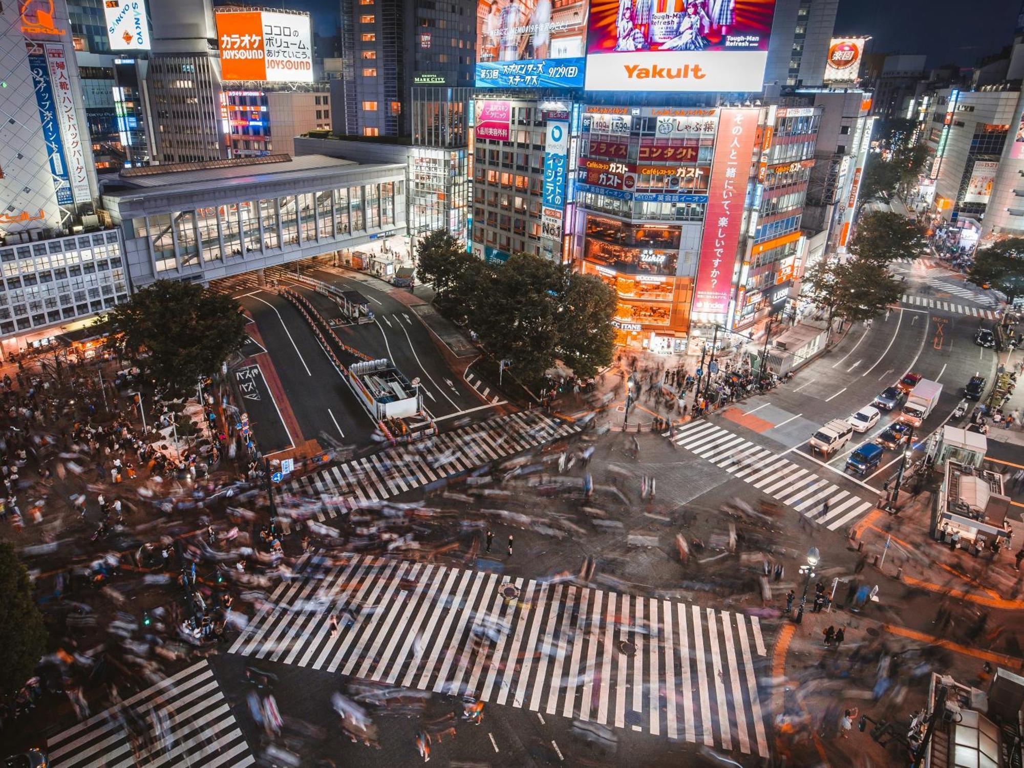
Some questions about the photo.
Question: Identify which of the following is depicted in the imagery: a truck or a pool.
truck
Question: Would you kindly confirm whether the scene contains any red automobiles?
Yes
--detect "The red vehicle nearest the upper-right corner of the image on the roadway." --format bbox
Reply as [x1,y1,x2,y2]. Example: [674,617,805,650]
[899,371,925,391]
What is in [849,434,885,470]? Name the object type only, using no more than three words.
van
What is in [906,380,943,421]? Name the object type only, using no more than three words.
truck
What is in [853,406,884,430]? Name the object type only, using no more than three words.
car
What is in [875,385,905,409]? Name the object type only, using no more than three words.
car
